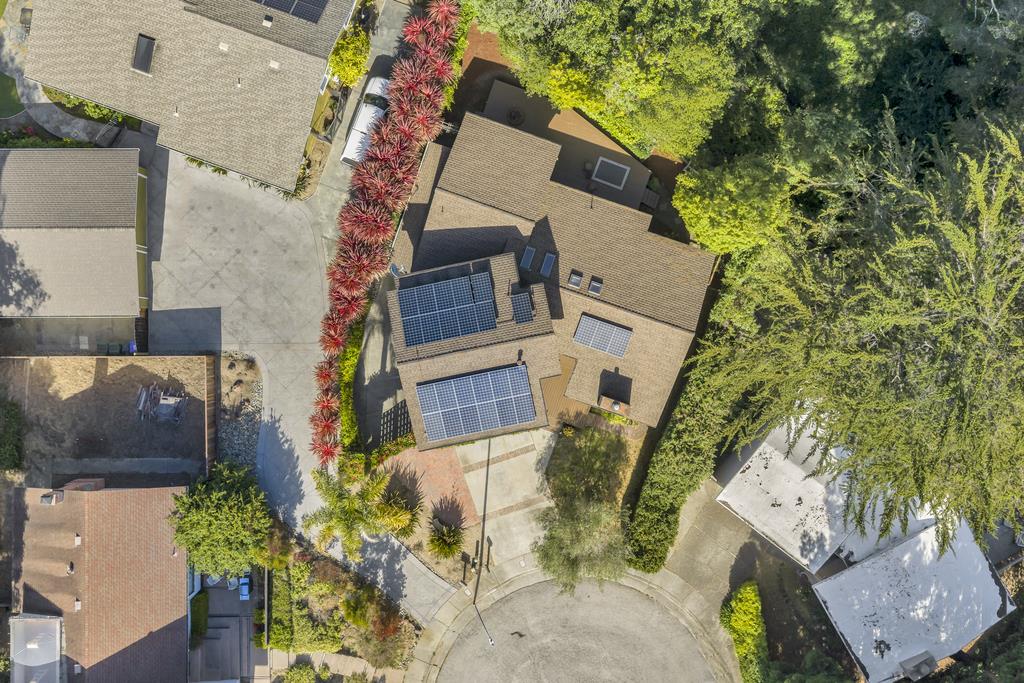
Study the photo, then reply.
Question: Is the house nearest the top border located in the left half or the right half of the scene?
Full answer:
You can find the house nearest the top border on the left side of the picture.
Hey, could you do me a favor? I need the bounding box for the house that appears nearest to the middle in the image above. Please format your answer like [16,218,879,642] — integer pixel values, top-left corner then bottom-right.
[383,112,716,453]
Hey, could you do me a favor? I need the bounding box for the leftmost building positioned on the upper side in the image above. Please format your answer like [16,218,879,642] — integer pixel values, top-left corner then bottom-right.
[0,147,149,320]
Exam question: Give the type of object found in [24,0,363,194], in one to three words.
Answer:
house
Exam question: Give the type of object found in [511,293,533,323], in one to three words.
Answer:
solar panel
